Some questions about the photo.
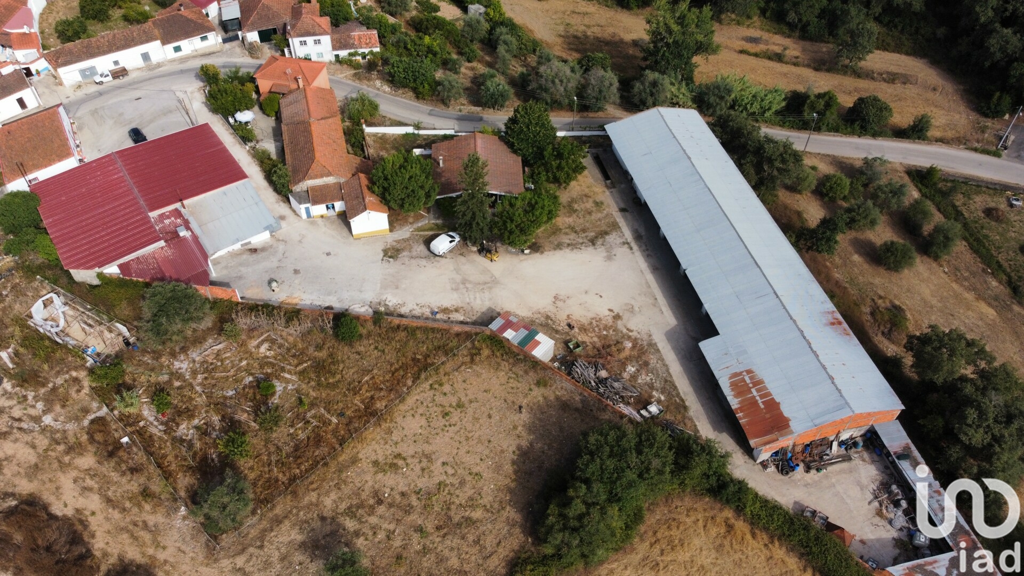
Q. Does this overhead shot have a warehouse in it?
Yes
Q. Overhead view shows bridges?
No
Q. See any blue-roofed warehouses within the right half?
No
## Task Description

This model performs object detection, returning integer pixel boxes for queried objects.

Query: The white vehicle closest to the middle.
[430,230,459,257]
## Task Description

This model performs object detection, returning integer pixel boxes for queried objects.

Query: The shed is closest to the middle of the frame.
[488,311,554,363]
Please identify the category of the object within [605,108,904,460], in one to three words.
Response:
warehouse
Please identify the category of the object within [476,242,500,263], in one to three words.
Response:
work vehicle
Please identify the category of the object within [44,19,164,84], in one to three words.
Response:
barn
